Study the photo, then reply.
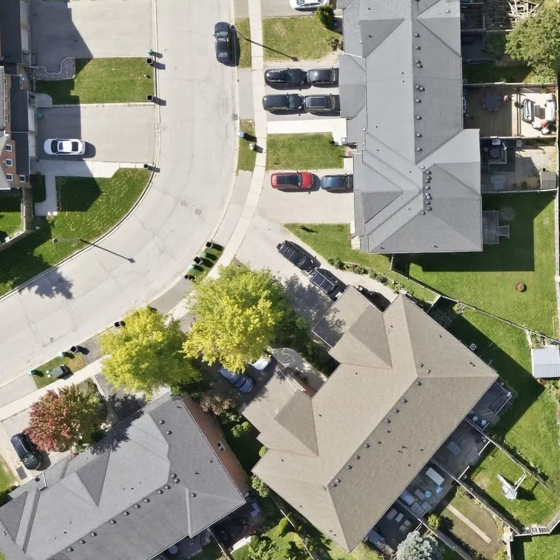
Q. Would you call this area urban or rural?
urban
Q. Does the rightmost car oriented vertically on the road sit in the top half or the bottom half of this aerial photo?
top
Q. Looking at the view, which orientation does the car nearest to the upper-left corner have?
from left to right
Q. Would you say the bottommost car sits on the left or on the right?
left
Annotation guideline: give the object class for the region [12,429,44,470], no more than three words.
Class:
car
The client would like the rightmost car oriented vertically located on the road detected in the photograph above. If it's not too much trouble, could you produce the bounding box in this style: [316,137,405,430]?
[212,22,233,64]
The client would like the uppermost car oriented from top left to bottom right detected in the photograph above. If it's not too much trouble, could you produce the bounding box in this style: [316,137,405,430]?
[276,238,319,273]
